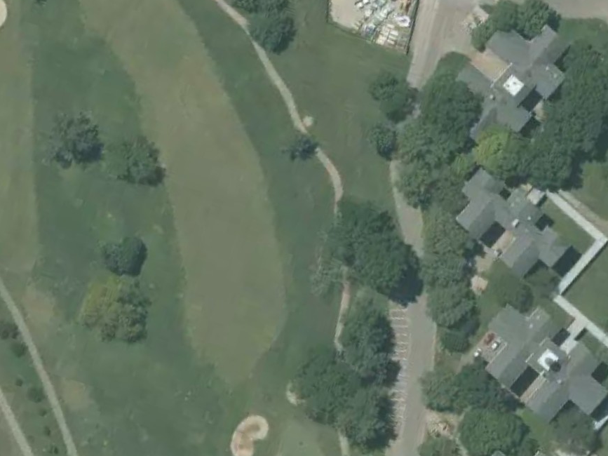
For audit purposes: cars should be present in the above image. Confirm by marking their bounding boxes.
[485,332,494,345]
[474,347,483,357]
[491,340,498,351]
